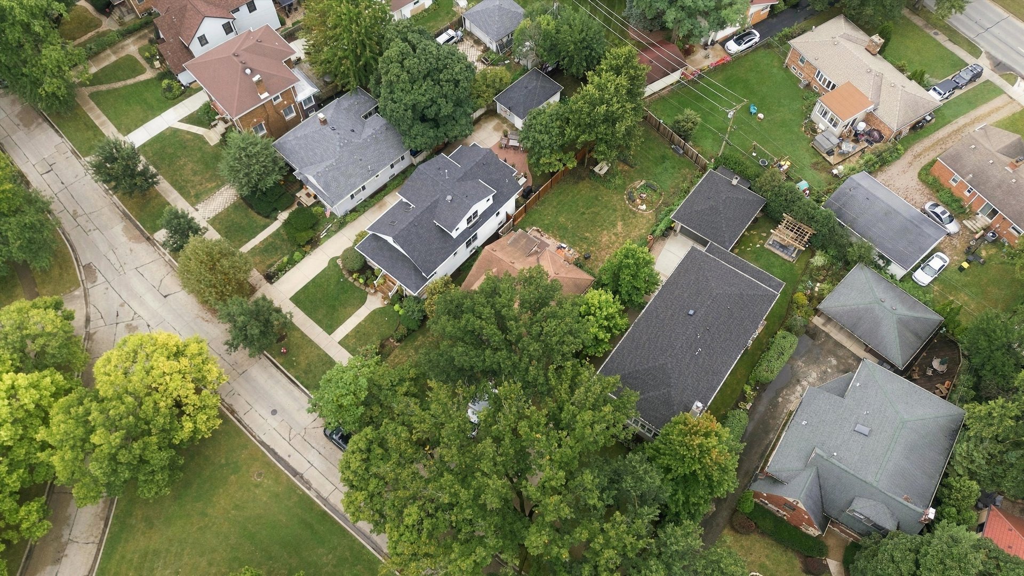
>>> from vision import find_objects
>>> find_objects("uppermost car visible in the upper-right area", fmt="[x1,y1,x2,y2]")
[726,28,764,57]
